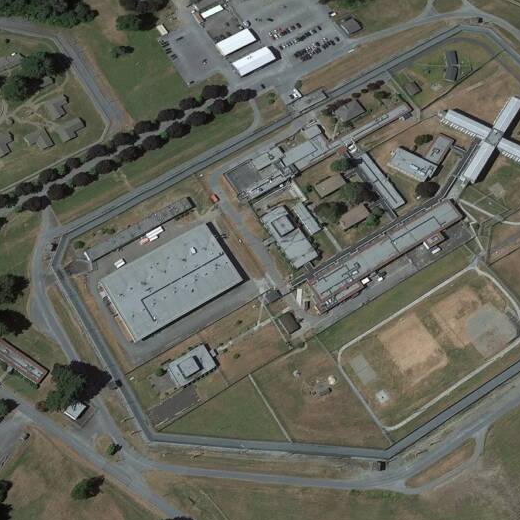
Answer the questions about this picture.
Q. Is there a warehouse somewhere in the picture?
Yes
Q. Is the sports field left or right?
right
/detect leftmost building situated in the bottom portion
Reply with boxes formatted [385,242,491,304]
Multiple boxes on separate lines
[0,339,44,384]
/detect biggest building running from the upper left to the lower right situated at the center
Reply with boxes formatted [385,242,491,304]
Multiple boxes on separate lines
[260,206,317,268]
